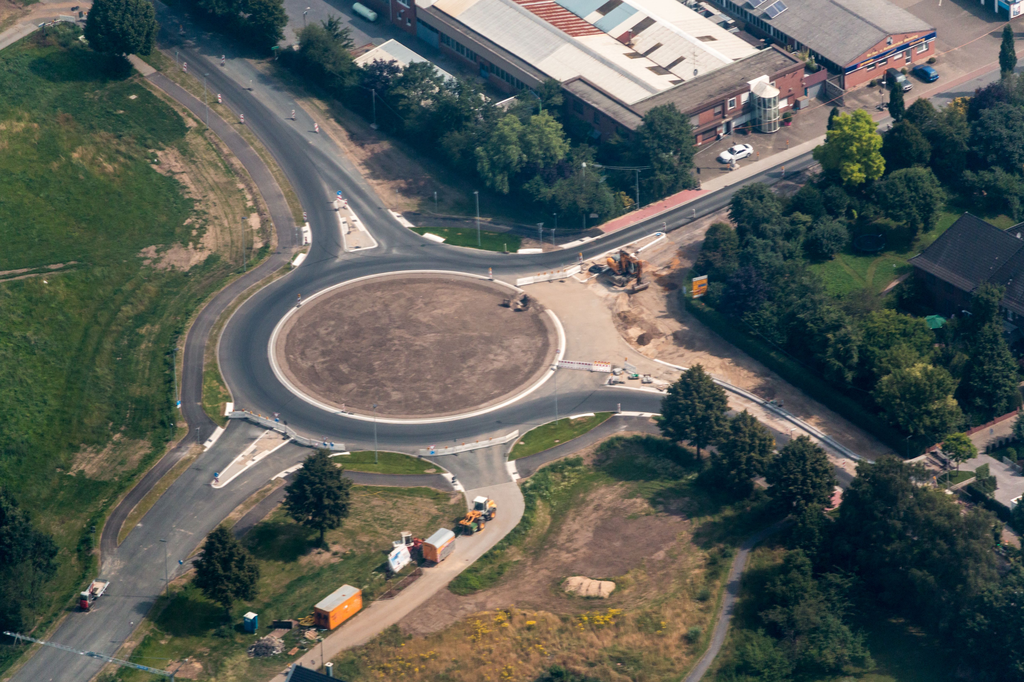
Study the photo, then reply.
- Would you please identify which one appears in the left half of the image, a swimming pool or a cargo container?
cargo container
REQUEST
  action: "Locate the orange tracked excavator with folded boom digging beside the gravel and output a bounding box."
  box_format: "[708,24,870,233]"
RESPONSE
[601,253,651,292]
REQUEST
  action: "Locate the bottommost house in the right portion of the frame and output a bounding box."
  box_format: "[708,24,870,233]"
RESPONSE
[907,205,1024,341]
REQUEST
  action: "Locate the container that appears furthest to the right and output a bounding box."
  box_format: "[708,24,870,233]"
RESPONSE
[313,579,366,630]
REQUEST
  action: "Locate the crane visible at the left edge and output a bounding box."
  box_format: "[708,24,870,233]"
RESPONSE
[2,630,188,682]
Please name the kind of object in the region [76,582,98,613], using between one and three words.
work vehicle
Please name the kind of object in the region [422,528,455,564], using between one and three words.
trailer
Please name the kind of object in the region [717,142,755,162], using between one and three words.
car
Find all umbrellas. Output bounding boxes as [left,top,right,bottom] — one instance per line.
[924,317,947,330]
